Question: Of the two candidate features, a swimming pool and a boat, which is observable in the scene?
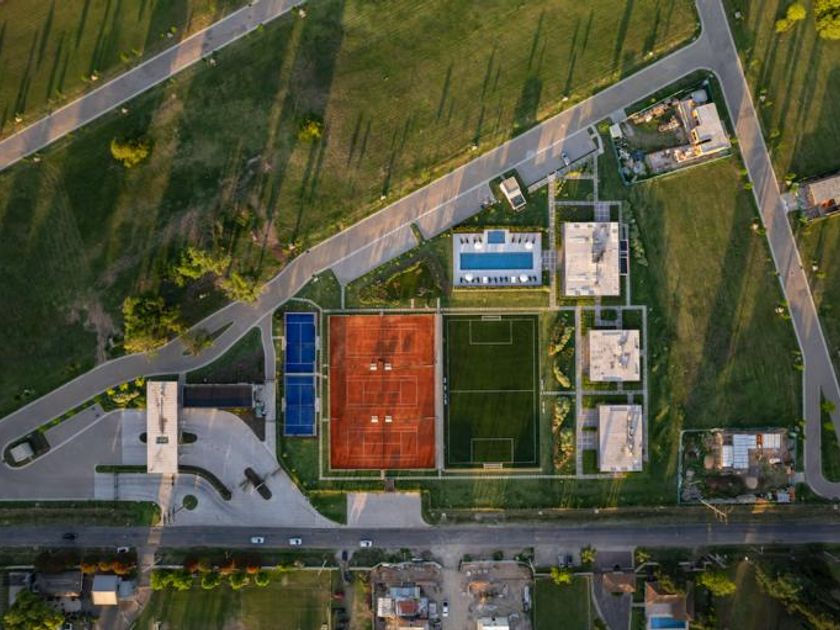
swimming pool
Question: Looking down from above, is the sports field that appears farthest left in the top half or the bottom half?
bottom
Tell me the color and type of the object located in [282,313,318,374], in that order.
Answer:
blue sports court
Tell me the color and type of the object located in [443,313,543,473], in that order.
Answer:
green soccer field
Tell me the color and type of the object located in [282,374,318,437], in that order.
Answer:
blue sports court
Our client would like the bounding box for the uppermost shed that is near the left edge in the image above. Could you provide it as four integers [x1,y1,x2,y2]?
[11,441,39,463]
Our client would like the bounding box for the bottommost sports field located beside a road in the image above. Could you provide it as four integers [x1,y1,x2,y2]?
[143,570,330,630]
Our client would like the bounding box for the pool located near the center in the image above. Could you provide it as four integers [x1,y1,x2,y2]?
[453,231,541,286]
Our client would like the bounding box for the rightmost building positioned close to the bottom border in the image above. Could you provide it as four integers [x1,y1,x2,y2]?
[646,582,694,622]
